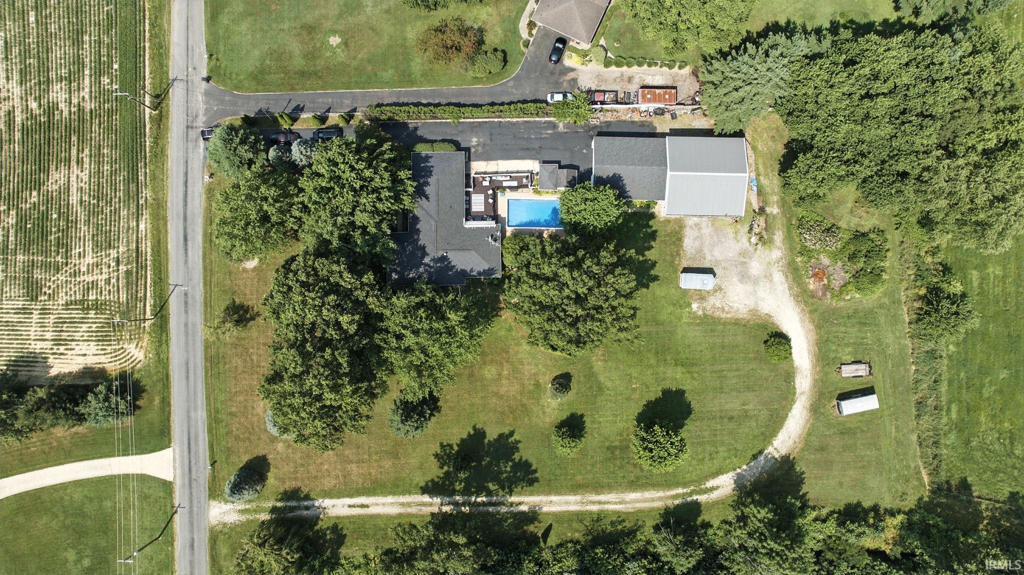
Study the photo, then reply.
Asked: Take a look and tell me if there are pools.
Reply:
Yes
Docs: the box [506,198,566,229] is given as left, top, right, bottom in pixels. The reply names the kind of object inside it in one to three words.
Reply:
swimming pool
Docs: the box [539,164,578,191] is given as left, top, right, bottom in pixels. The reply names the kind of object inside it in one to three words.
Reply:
shed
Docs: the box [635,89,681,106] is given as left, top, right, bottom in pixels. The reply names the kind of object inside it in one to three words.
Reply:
trailer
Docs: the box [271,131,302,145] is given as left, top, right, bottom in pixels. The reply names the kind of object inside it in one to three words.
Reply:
car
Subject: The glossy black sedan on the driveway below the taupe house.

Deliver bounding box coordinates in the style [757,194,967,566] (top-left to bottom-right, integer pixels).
[549,36,566,66]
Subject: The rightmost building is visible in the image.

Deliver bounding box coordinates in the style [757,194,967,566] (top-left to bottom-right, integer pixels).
[663,136,750,217]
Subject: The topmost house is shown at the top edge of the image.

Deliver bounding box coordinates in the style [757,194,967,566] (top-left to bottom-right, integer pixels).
[531,0,609,46]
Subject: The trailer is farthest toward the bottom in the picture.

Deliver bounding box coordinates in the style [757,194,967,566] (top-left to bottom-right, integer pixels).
[832,393,879,414]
